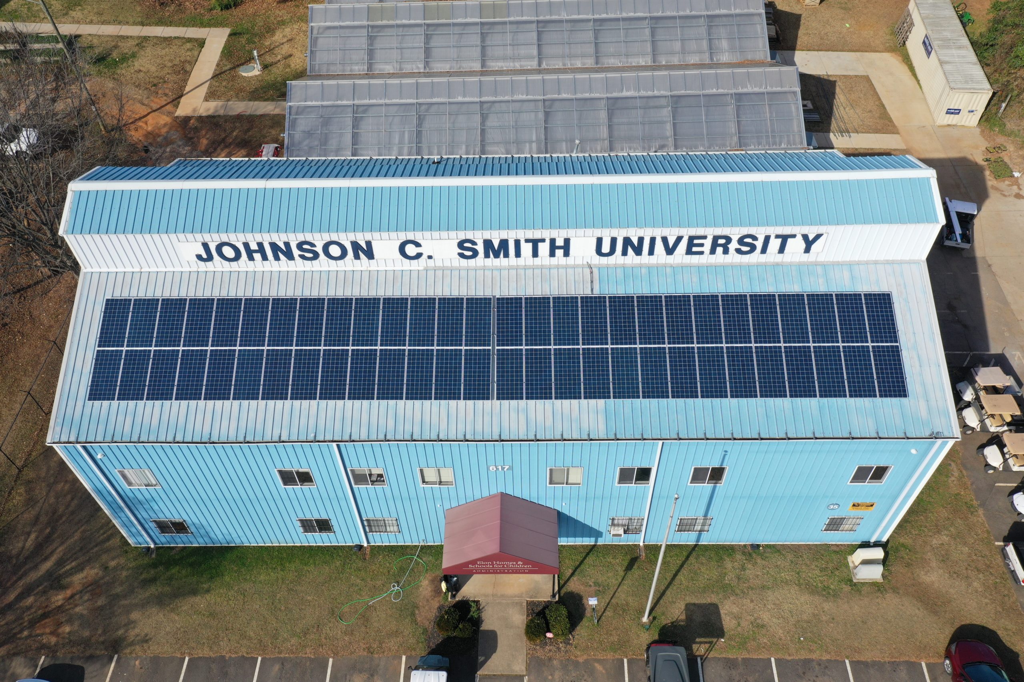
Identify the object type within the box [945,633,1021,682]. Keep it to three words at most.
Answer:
car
